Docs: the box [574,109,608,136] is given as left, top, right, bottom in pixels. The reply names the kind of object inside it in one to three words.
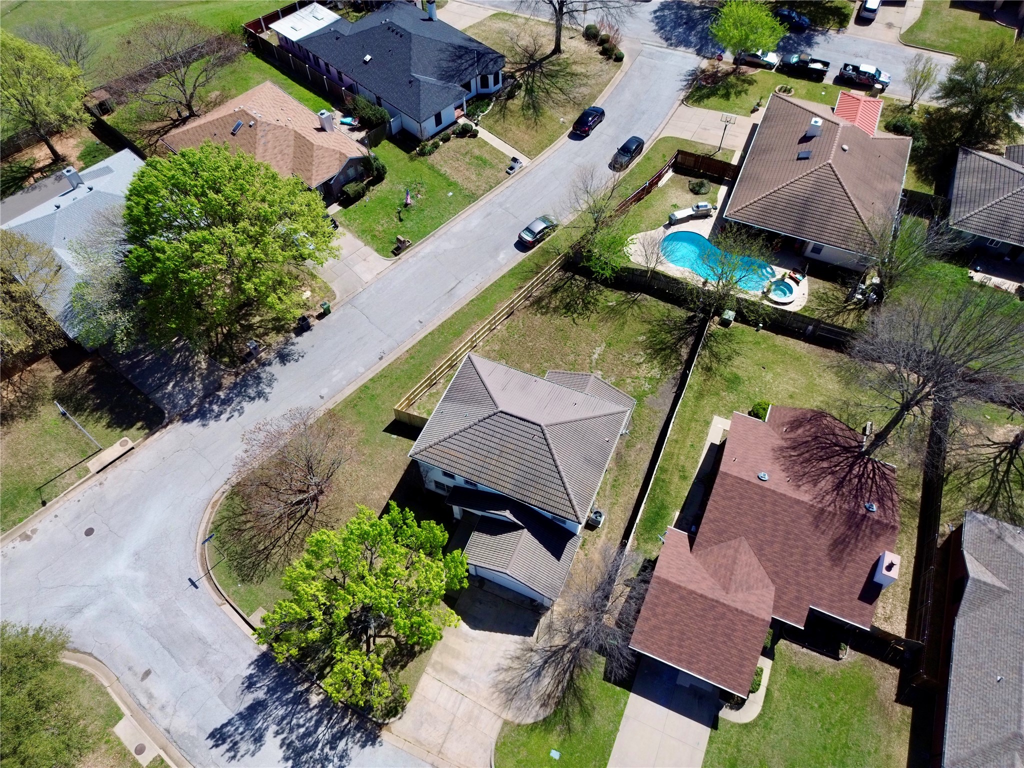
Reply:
car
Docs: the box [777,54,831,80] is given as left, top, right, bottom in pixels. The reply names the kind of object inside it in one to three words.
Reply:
truck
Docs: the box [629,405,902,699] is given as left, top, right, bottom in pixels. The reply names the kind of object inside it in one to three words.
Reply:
house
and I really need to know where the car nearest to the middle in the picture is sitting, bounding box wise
[516,216,559,250]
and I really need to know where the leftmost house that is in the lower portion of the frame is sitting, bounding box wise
[407,351,637,604]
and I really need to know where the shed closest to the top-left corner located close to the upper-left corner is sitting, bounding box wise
[78,91,117,125]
